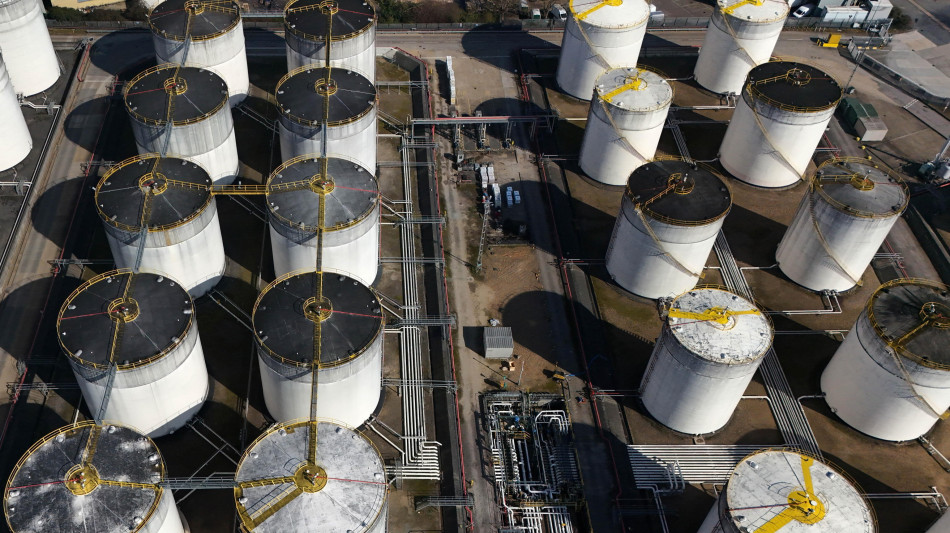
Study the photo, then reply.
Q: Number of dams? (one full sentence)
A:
I count no dams.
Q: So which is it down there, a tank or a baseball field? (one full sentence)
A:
There is a tank in the scene.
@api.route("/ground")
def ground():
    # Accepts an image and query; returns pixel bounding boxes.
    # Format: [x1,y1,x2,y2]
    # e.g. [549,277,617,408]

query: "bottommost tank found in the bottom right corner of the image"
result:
[695,444,879,533]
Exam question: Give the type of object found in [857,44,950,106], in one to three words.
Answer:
building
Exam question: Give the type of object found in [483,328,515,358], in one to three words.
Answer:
building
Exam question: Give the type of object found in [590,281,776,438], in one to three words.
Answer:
storage tank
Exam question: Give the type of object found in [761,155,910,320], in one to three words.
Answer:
storage tank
